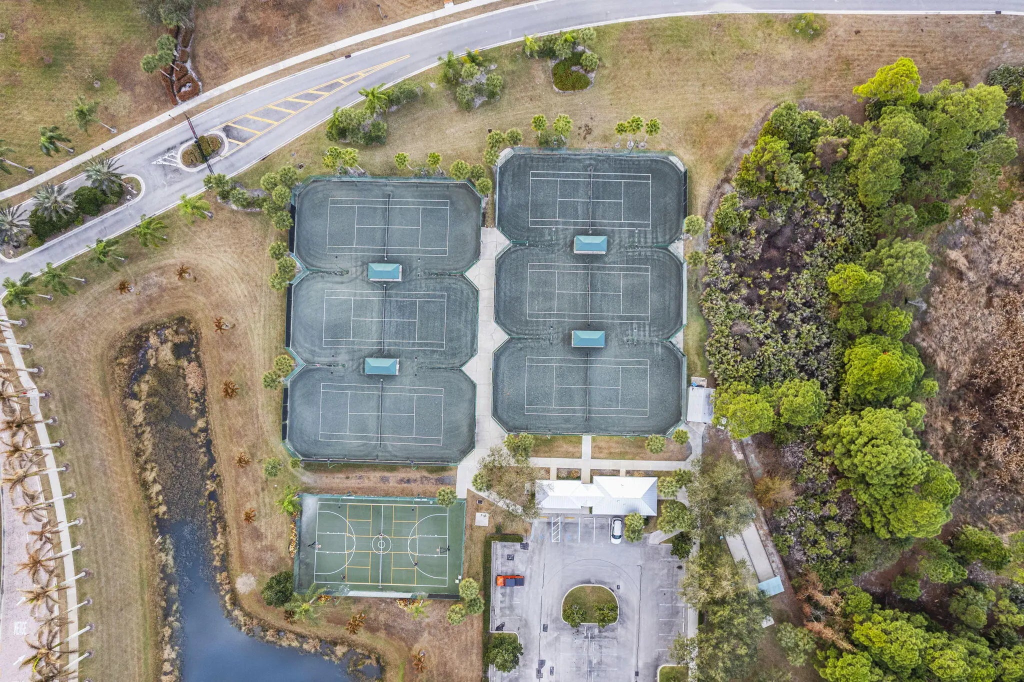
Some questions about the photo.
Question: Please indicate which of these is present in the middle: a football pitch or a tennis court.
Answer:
tennis court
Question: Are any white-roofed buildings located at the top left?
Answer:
No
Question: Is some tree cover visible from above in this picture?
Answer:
Yes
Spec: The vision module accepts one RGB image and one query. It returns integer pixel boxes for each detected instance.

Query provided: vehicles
[496,576,525,589]
[611,518,623,544]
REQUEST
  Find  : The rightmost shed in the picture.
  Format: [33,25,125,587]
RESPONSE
[686,387,715,423]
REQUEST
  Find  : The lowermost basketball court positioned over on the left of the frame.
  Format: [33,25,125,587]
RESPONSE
[297,499,464,594]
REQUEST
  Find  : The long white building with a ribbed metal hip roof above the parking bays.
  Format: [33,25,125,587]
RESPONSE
[535,476,657,516]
